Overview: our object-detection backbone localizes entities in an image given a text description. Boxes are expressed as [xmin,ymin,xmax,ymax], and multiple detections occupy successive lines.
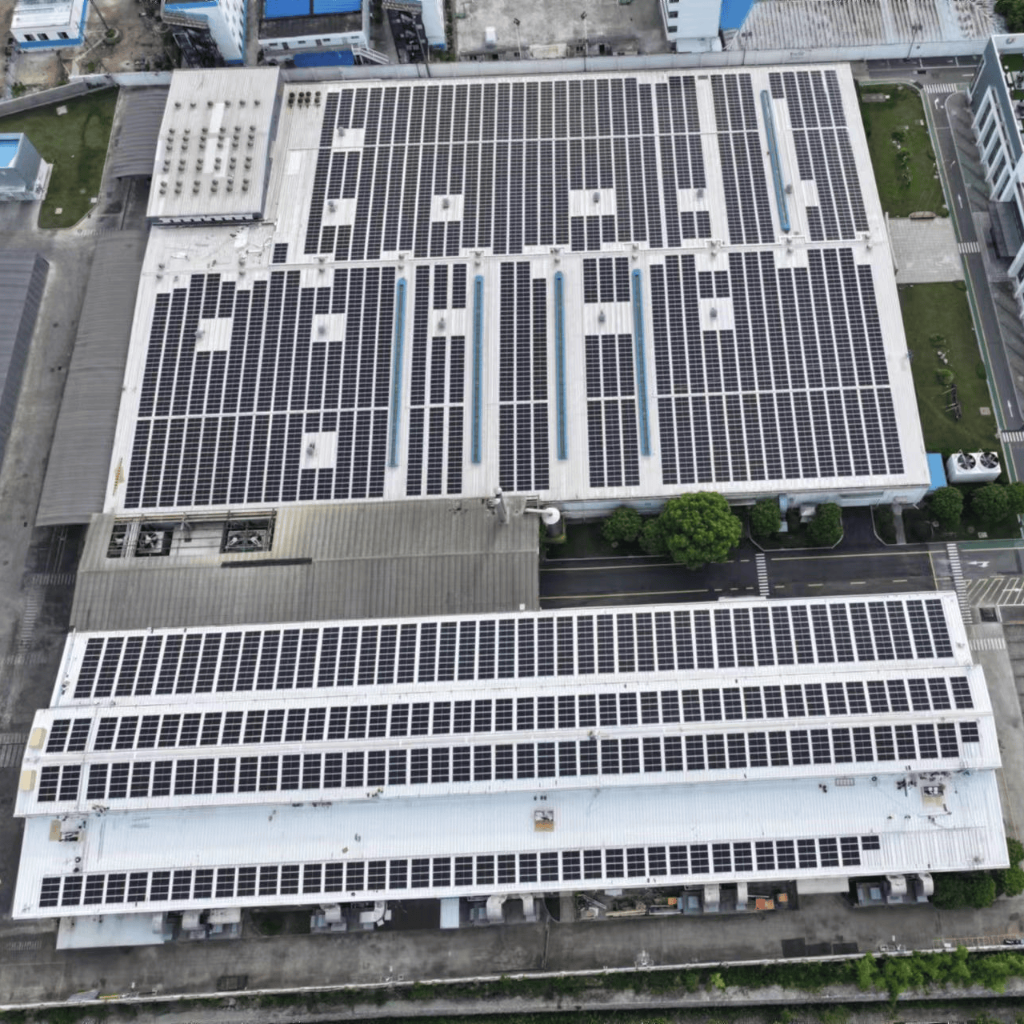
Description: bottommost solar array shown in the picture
[40,836,901,906]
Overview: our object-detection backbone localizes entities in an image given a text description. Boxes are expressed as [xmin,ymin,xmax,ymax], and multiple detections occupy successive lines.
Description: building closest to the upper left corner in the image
[9,0,95,49]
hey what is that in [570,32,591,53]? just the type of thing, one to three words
shed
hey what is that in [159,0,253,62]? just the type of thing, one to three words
building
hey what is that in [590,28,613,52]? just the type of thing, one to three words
shed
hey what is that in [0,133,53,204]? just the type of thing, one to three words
building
